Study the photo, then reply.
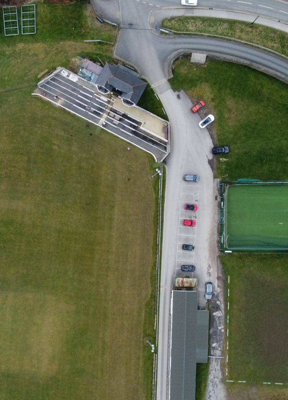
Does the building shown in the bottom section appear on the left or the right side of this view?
right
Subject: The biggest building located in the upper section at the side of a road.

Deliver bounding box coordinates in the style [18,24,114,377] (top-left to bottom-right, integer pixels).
[96,62,148,108]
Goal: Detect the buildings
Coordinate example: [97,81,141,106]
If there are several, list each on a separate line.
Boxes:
[96,62,148,108]
[168,290,209,400]
[188,53,207,66]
